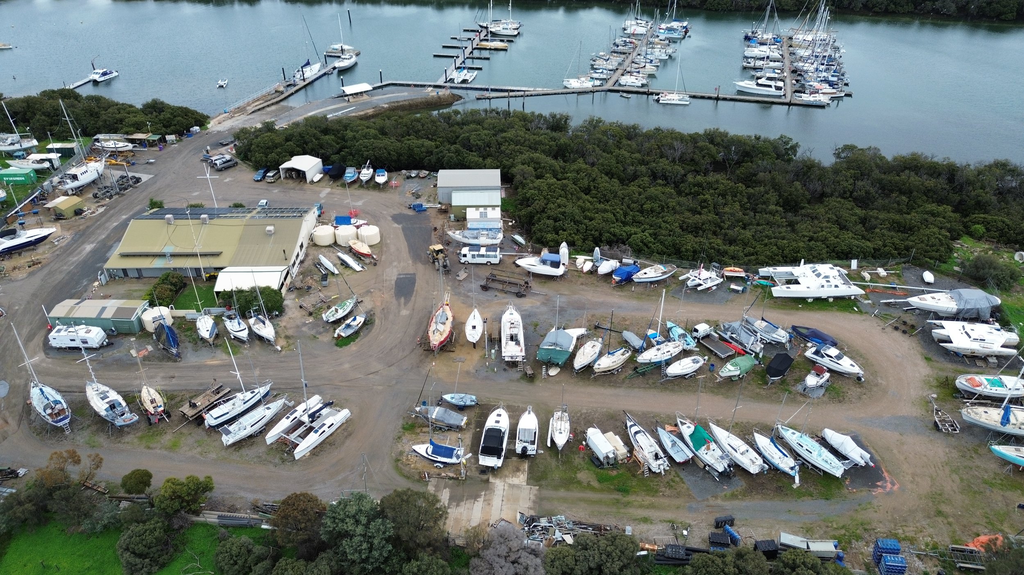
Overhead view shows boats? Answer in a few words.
Yes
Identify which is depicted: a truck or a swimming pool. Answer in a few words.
truck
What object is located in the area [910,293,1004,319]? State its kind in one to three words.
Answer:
boat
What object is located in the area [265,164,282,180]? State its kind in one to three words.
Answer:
car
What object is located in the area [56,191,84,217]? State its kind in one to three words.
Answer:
shed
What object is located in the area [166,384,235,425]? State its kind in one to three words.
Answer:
ship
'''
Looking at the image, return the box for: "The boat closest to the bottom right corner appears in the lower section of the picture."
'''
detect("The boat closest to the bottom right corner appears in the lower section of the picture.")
[992,440,1024,472]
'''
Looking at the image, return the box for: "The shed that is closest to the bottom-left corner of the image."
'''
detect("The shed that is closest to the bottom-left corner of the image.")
[46,297,151,333]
